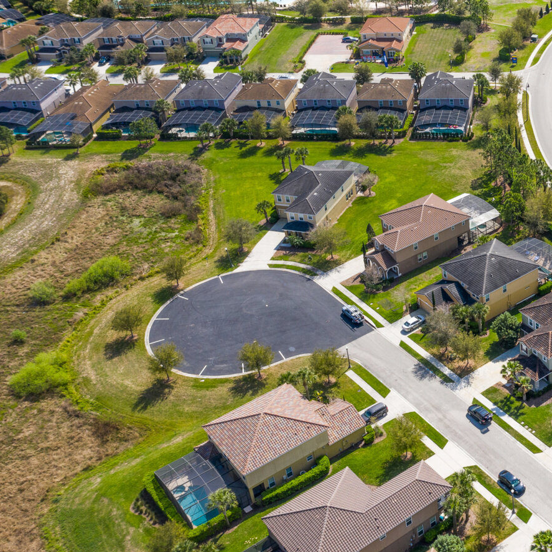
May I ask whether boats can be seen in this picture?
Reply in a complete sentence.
No, no boat can be seen from above.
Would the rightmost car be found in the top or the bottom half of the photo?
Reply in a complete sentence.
Seen from above, the rightmost car lies in the bottom half of the view.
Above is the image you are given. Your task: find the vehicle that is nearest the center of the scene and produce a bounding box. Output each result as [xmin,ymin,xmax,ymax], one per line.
[341,303,366,324]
